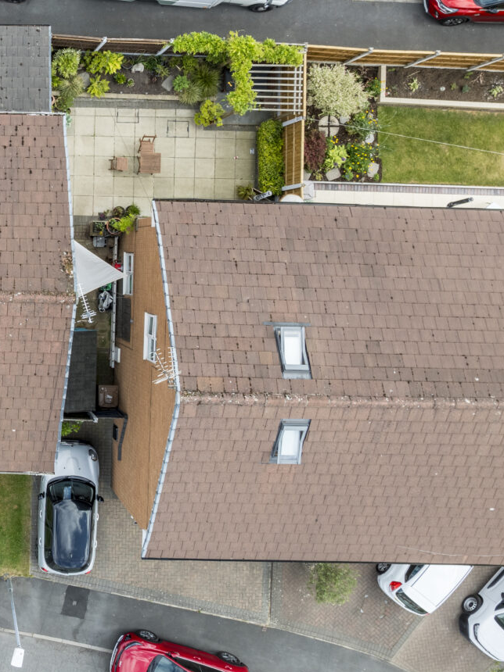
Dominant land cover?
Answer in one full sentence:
The largest share of the image is taken up by buildings.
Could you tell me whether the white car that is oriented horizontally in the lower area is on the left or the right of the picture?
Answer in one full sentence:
The white car that is oriented horizontally in the lower area appears in the right half of the scene.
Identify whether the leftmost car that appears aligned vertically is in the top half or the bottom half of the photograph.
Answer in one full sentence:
Seen from above, the leftmost car that appears aligned vertically lies in the bottom half of the view.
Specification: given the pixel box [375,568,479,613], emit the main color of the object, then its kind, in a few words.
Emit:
white car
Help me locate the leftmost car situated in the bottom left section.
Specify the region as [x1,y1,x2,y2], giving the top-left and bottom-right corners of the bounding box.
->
[32,437,106,578]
